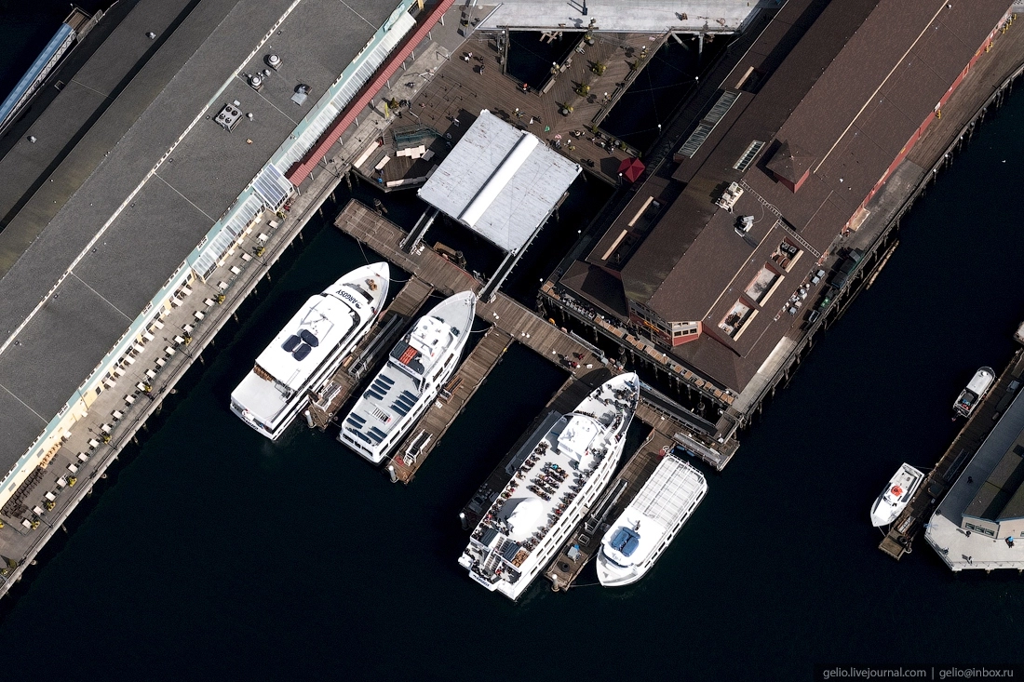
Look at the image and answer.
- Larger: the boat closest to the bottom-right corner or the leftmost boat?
the leftmost boat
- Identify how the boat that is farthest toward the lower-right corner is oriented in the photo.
at an angle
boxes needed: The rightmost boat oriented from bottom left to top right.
[953,365,992,419]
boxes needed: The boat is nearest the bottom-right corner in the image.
[871,463,924,528]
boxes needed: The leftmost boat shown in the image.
[229,260,390,440]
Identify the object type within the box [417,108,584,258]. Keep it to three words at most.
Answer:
shed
